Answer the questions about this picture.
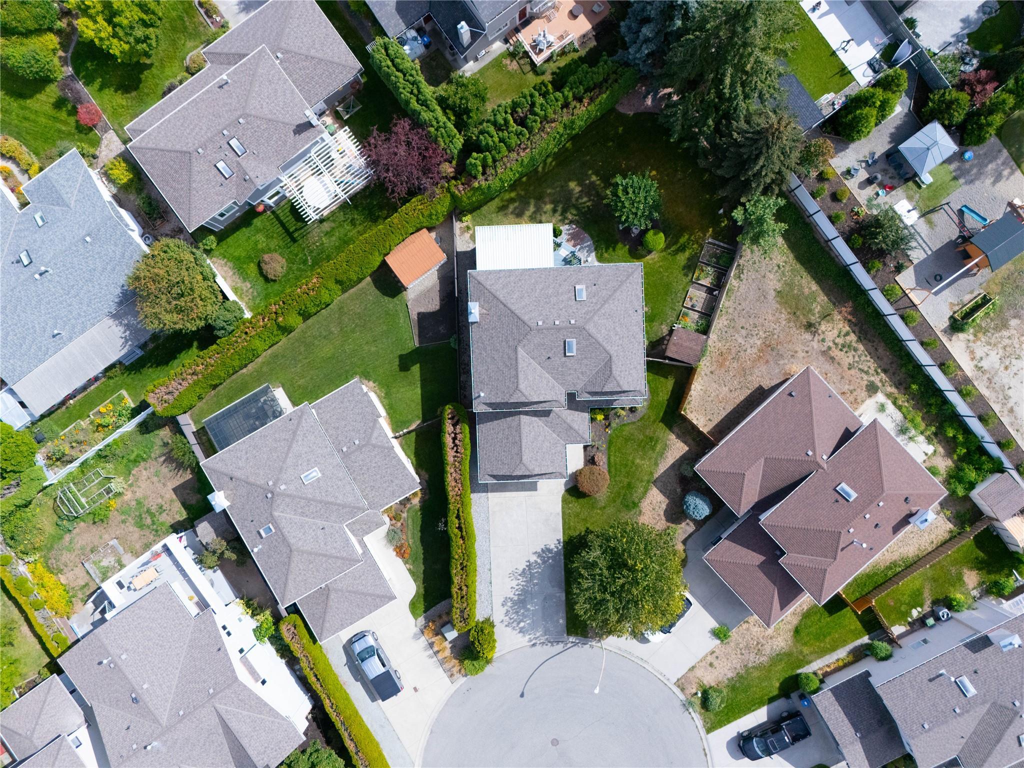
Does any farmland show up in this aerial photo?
No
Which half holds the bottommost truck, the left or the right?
right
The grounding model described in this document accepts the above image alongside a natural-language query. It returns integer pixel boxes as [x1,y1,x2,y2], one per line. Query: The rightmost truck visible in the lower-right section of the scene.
[736,709,814,761]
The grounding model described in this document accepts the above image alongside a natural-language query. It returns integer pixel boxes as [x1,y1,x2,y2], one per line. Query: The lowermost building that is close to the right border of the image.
[807,589,1024,768]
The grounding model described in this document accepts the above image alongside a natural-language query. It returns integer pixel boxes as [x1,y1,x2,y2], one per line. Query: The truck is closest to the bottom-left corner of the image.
[351,626,406,703]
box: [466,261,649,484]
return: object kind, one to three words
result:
house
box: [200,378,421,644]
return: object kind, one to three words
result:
house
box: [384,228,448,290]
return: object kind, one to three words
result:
shed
